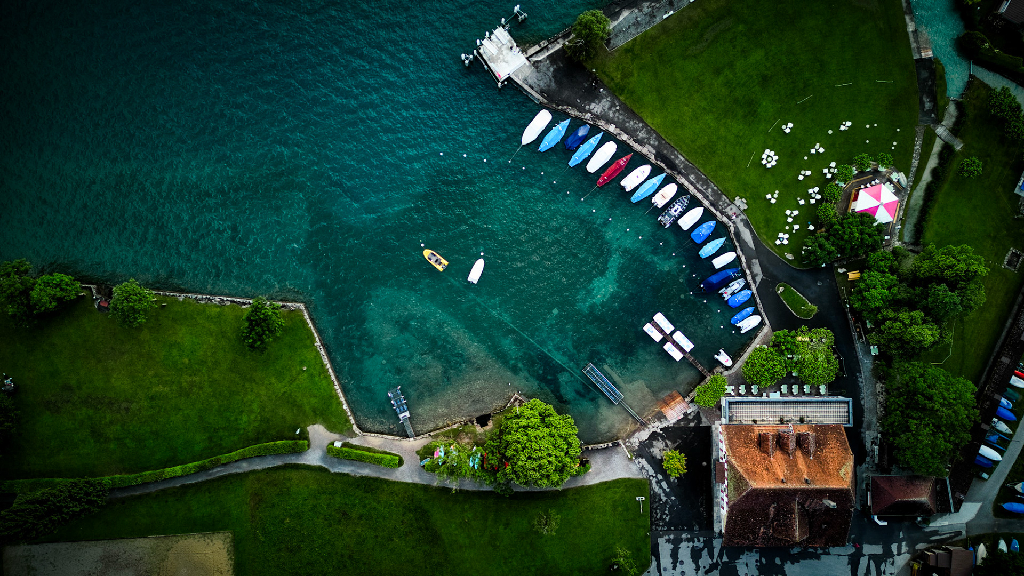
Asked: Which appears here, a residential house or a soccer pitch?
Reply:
residential house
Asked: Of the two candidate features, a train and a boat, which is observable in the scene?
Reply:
boat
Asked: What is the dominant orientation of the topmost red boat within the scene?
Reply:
diagonally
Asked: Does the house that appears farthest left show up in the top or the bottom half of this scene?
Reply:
bottom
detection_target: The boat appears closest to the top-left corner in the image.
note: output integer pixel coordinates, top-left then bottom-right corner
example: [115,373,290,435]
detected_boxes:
[423,250,448,271]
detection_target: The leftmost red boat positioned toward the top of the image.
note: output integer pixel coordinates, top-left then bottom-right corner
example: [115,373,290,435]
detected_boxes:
[596,153,633,188]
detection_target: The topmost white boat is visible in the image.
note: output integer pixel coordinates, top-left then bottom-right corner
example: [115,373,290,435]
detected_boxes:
[521,107,551,145]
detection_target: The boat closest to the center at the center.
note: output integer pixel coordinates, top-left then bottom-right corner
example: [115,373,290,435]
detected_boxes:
[468,258,484,285]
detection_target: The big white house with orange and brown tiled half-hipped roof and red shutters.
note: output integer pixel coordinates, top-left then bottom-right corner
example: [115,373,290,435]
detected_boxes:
[710,396,860,546]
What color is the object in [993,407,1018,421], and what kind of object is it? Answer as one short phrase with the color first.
blue boat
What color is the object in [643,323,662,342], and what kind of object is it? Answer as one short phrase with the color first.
white boat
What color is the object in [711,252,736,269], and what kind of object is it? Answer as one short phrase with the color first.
white boat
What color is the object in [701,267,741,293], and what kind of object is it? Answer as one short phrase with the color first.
blue boat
